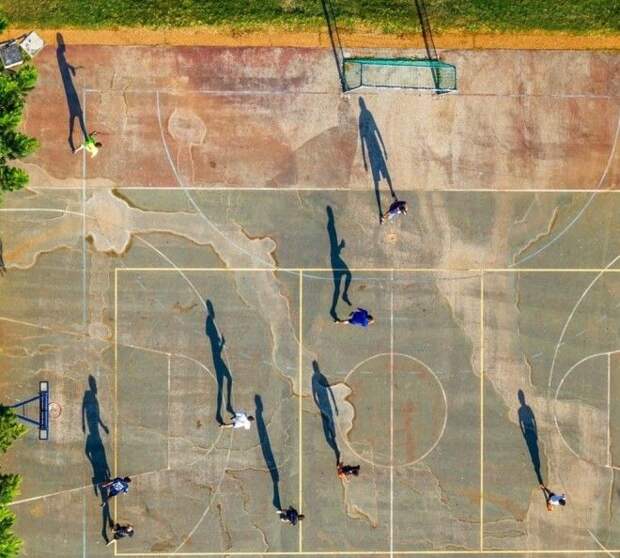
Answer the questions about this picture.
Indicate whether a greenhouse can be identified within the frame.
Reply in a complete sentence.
No, there's no greenhouse here.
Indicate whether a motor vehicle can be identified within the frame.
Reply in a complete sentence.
No, the photo shows no motor vehicle.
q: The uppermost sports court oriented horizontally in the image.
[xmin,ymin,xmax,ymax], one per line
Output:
[0,45,620,322]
